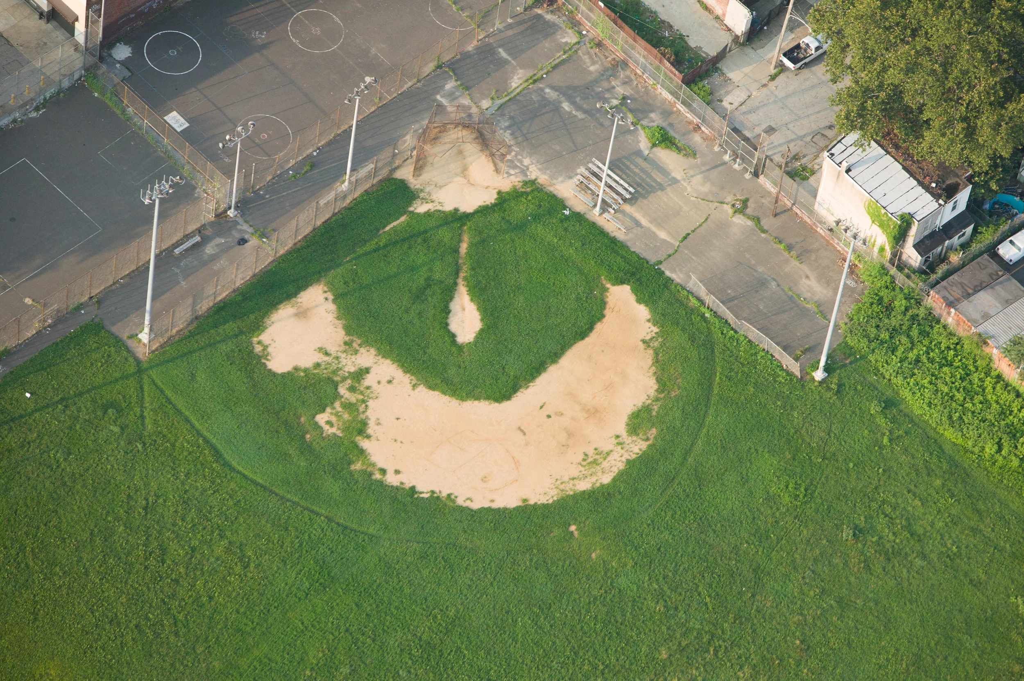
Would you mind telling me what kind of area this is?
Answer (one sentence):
The picture captures a sports ground.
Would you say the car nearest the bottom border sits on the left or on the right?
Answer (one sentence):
It is on the right.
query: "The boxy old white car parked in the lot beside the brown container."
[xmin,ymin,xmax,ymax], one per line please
[998,231,1024,265]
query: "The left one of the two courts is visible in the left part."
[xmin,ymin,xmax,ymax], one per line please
[0,80,226,355]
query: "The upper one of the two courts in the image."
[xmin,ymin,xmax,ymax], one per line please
[111,0,539,206]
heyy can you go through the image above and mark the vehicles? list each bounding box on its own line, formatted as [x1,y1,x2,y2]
[998,231,1024,265]
[779,30,822,71]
